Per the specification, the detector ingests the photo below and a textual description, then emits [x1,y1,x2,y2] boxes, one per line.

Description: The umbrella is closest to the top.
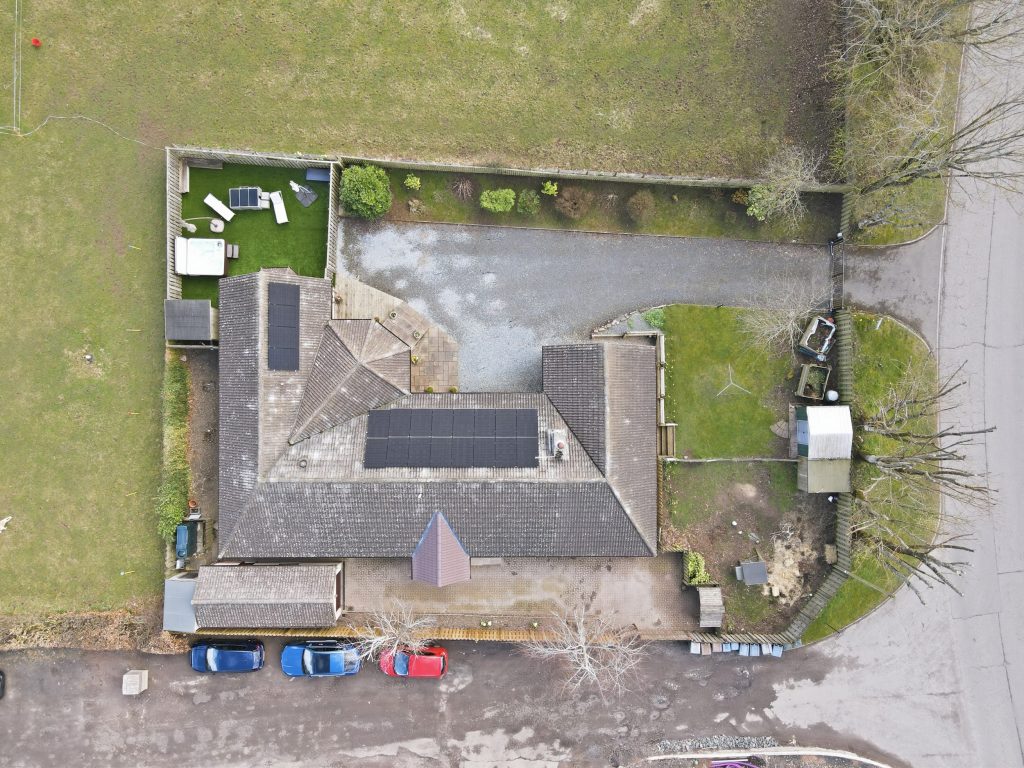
[290,180,318,206]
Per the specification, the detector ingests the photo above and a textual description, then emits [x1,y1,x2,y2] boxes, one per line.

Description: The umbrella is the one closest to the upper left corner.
[185,217,223,233]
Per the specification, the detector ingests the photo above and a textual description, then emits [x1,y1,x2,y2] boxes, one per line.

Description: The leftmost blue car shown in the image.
[192,638,267,677]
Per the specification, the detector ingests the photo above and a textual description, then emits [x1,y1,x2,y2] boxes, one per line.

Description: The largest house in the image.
[218,265,657,588]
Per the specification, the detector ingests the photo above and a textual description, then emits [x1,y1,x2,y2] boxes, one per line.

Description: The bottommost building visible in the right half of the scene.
[698,587,725,628]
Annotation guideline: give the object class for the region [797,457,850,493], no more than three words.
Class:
shed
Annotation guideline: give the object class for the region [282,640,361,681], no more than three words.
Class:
car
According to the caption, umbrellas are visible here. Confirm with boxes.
[290,180,318,206]
[185,217,223,233]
